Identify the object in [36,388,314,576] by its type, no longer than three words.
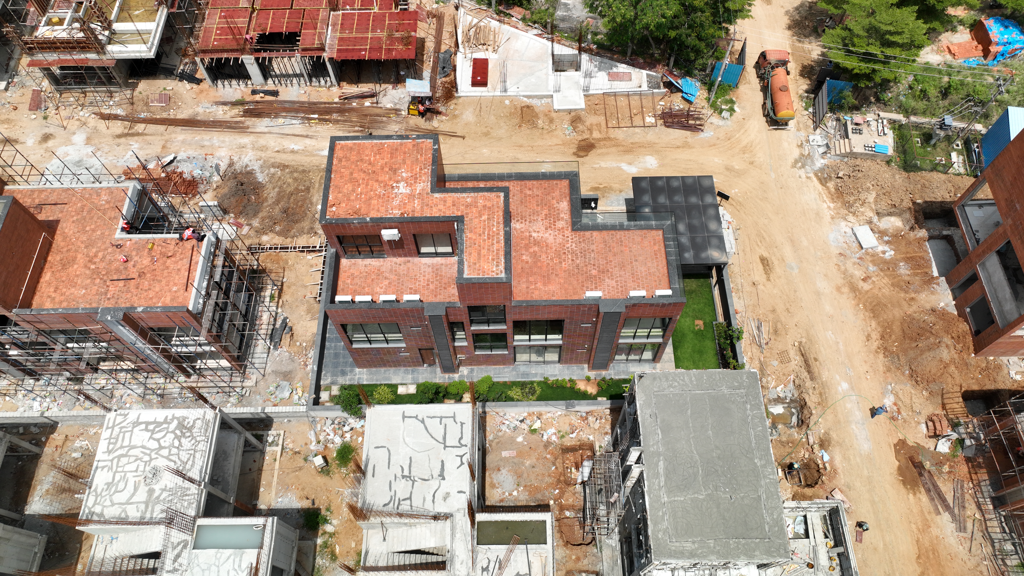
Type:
house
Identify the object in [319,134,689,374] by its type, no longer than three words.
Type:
house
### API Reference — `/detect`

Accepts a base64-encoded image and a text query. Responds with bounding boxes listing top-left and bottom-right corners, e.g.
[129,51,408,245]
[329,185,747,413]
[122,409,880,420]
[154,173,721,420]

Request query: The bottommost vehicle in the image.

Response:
[752,50,798,130]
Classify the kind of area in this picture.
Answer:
residential area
